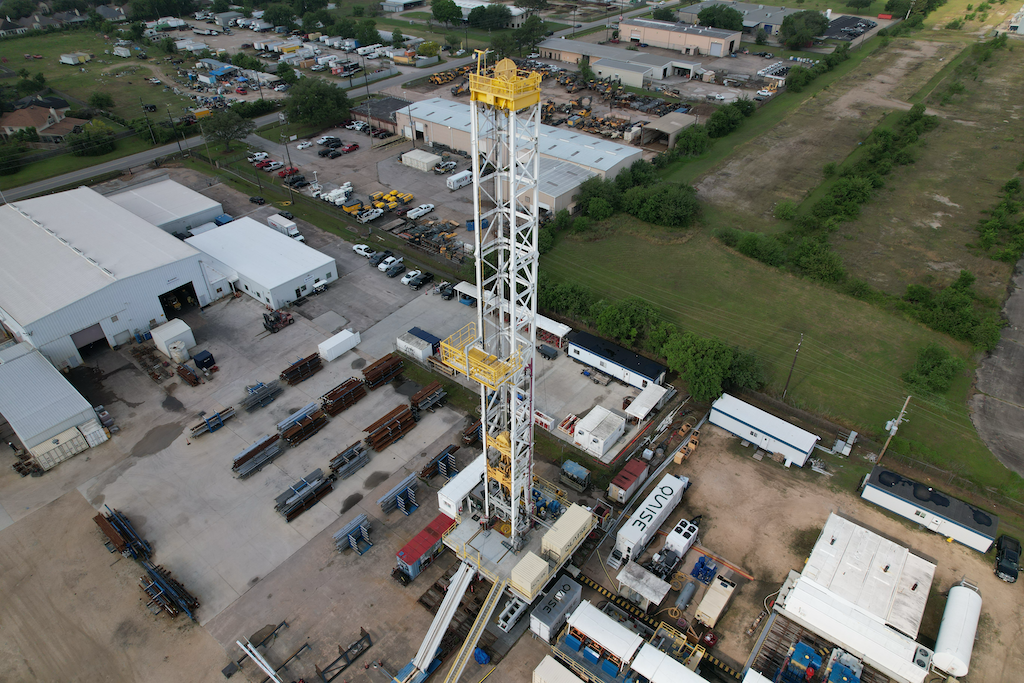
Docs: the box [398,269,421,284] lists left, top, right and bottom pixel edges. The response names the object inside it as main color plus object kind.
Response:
white car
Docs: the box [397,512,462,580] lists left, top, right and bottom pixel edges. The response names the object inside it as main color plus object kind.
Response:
red shipping container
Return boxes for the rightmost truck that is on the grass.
[991,535,1024,578]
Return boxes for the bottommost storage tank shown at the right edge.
[929,577,984,675]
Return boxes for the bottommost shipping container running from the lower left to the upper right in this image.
[531,575,583,640]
